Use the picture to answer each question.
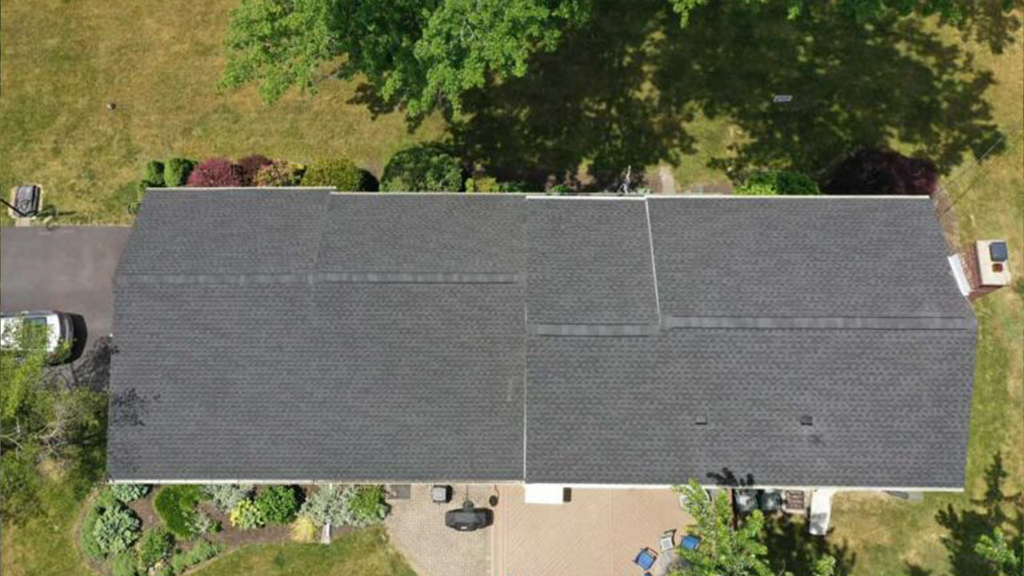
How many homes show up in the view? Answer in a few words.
1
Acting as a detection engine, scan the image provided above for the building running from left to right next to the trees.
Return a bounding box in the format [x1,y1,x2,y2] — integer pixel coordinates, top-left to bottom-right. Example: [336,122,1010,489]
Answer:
[109,186,1011,492]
